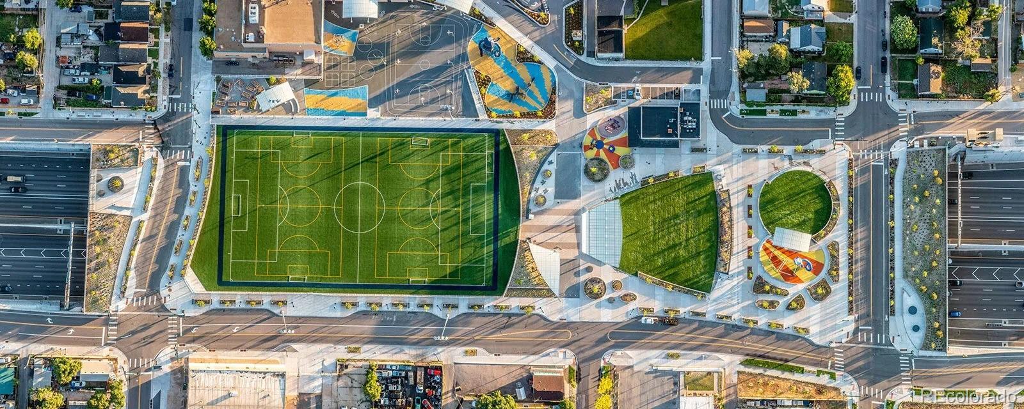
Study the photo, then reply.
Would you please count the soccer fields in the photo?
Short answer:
1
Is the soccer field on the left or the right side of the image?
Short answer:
left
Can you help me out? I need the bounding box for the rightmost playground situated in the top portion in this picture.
[582,114,632,176]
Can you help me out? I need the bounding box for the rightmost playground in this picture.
[759,235,827,285]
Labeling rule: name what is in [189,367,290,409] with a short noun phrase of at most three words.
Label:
building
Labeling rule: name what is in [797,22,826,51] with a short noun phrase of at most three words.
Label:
house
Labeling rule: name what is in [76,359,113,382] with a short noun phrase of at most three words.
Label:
house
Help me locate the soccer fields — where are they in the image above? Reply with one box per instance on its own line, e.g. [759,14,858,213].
[190,124,520,295]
